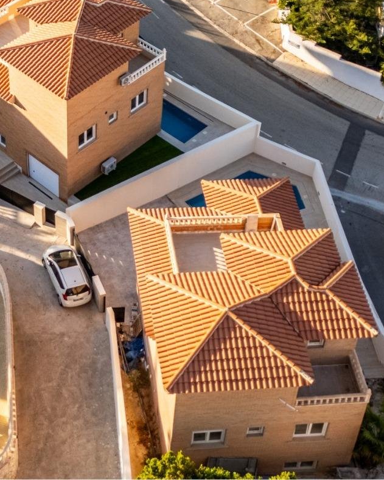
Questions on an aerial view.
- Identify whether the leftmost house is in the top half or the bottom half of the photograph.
top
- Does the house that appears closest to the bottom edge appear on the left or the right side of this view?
right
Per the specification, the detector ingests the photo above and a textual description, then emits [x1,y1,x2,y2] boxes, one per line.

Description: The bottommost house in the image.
[126,173,378,477]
